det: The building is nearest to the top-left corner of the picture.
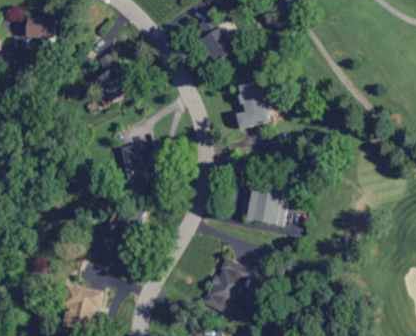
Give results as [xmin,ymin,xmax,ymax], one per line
[26,16,57,40]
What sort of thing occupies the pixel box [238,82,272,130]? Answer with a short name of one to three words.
house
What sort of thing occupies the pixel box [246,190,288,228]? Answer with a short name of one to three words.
house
